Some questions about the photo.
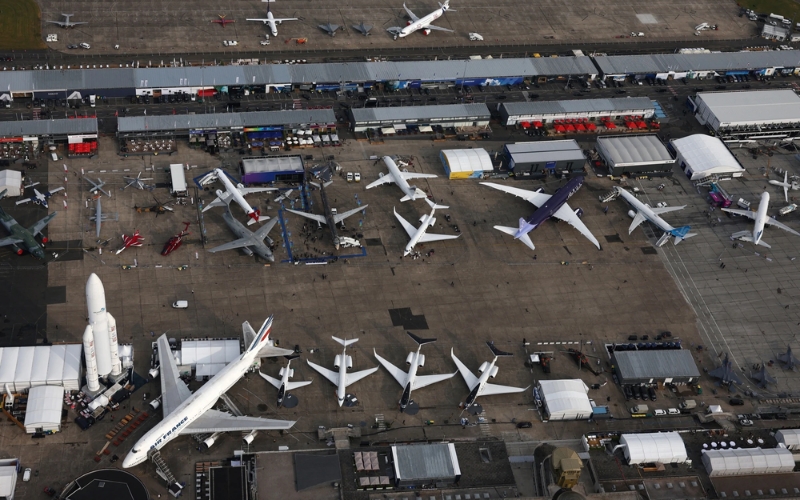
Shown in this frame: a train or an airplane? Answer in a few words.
airplane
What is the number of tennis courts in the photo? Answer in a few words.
zero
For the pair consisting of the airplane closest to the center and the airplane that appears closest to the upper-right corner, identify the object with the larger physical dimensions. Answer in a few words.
the airplane closest to the center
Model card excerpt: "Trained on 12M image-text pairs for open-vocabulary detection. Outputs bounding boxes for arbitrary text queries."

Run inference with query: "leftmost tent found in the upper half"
[0,171,20,196]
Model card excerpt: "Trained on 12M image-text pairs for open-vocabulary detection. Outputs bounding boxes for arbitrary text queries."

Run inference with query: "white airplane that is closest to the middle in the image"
[394,196,462,255]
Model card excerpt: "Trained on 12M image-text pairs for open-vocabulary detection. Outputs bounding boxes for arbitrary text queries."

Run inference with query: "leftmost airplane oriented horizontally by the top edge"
[46,11,88,30]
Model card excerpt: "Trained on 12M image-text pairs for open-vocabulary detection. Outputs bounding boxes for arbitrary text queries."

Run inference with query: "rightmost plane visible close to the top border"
[396,0,455,39]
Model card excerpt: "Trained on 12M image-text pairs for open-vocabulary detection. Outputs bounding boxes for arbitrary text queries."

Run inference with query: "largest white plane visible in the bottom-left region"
[122,323,295,469]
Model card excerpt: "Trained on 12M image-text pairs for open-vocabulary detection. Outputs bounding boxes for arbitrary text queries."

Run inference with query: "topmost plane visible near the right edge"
[769,169,794,198]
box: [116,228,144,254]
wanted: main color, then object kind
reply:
red airplane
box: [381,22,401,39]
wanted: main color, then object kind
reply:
gray airplane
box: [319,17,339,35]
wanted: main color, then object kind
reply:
gray airplane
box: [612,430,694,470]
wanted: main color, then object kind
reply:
white tent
